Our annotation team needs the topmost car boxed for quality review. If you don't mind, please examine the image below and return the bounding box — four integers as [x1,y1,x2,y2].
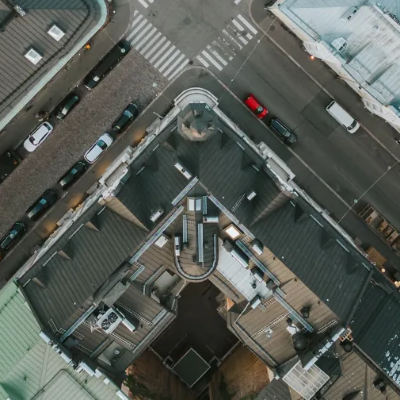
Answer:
[80,37,135,92]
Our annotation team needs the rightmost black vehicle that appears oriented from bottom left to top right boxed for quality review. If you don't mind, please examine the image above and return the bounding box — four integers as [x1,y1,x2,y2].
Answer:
[108,100,144,136]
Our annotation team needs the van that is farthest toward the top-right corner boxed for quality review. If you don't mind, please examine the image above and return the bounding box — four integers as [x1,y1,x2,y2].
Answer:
[323,99,362,137]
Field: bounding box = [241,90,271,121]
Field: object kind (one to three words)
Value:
car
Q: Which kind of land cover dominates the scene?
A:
buildings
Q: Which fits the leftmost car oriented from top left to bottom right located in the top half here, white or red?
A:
red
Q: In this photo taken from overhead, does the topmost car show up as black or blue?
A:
black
